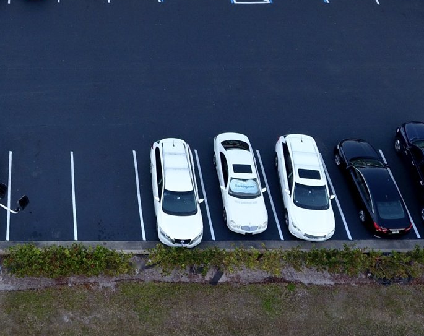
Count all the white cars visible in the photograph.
three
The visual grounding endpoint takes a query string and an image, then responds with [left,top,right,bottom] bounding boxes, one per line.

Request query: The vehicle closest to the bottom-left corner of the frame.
[150,140,209,245]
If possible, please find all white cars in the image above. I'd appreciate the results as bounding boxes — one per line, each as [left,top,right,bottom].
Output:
[214,137,274,234]
[276,136,341,237]
[150,140,209,245]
